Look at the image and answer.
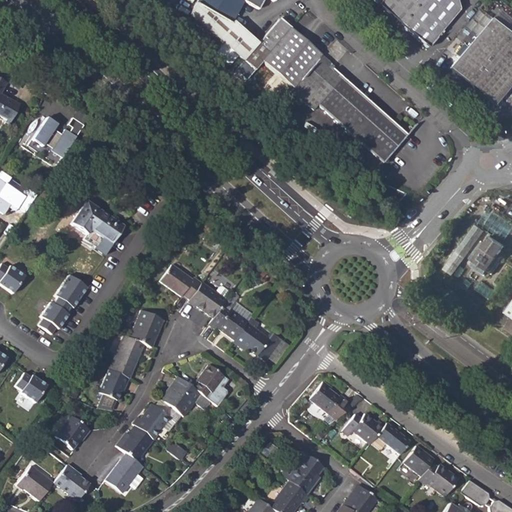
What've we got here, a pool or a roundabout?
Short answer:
roundabout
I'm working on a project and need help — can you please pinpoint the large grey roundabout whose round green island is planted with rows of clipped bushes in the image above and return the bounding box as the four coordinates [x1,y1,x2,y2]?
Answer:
[309,234,400,325]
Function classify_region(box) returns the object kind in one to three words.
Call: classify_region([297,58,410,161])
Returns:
building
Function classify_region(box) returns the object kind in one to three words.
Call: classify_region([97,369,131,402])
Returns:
house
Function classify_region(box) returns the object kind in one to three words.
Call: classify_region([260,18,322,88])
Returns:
building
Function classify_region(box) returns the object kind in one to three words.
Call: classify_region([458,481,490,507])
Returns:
house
